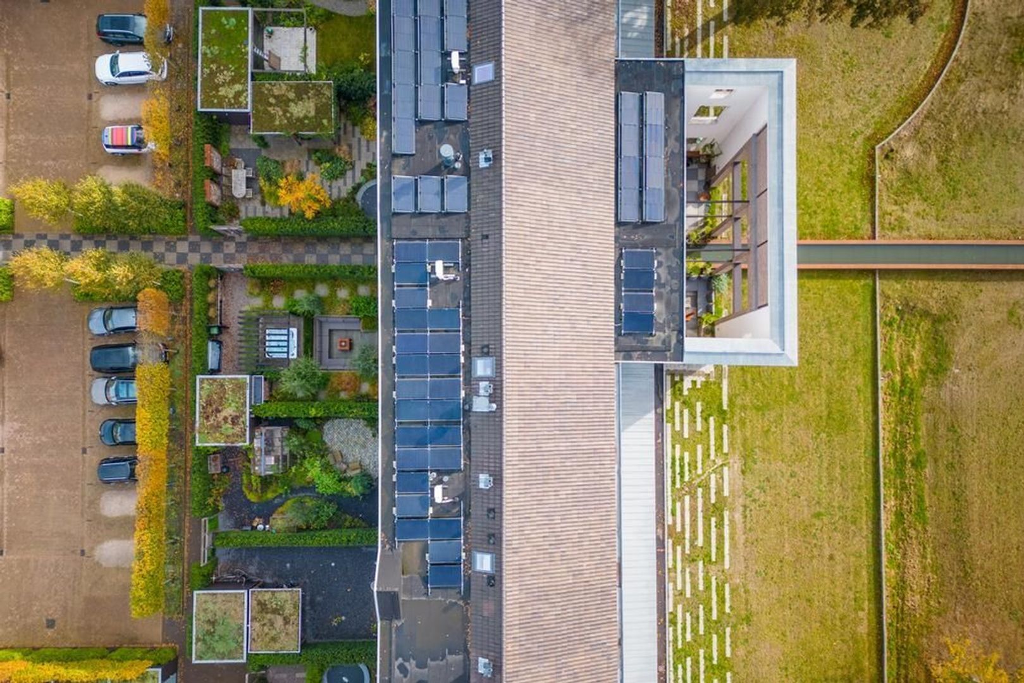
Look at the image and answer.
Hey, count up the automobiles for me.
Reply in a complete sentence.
Altogether the scene contains 8 automobiles.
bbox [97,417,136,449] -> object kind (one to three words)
car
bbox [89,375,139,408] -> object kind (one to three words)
car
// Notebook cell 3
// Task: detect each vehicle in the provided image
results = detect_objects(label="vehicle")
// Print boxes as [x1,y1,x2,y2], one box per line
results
[89,375,139,408]
[93,12,172,49]
[97,417,136,449]
[99,125,160,155]
[93,456,136,485]
[94,48,167,87]
[91,341,169,373]
[86,304,155,337]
